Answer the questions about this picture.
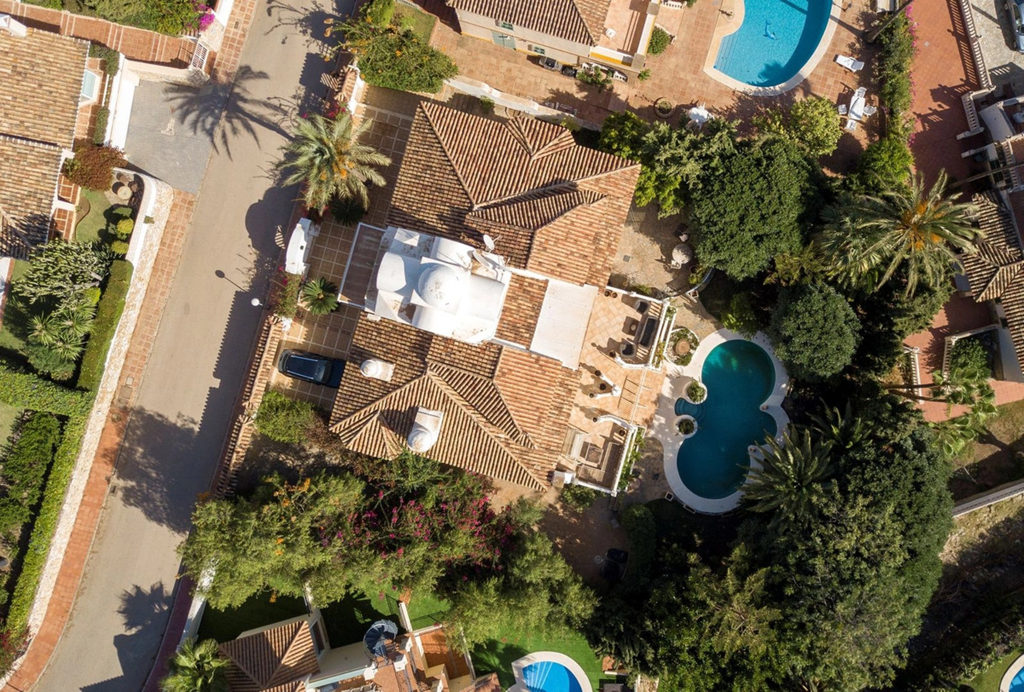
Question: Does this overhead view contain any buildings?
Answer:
Yes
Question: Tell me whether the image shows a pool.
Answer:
Yes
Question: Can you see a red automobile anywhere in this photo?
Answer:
No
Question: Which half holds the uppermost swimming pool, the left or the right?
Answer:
right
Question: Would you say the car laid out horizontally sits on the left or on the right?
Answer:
left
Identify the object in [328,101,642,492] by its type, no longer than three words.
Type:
house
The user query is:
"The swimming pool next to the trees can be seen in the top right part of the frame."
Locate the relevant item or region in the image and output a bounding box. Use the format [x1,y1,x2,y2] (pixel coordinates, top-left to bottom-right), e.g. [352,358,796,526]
[714,0,836,85]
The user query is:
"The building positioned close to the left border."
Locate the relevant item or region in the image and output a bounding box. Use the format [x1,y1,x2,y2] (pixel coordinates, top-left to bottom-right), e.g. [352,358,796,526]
[0,12,112,259]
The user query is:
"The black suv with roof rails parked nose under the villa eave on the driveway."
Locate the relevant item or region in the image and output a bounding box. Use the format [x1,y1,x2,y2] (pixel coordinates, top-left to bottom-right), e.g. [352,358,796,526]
[278,350,350,390]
